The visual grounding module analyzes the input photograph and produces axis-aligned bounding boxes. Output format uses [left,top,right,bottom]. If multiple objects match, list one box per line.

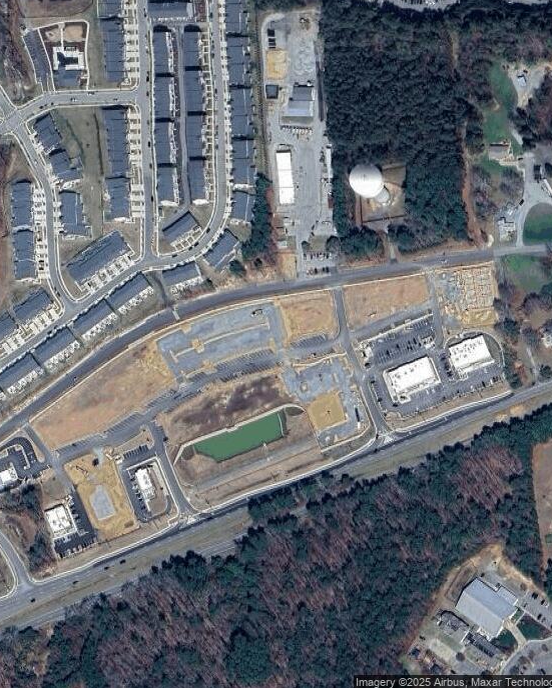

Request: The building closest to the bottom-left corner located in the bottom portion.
[46,506,75,539]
